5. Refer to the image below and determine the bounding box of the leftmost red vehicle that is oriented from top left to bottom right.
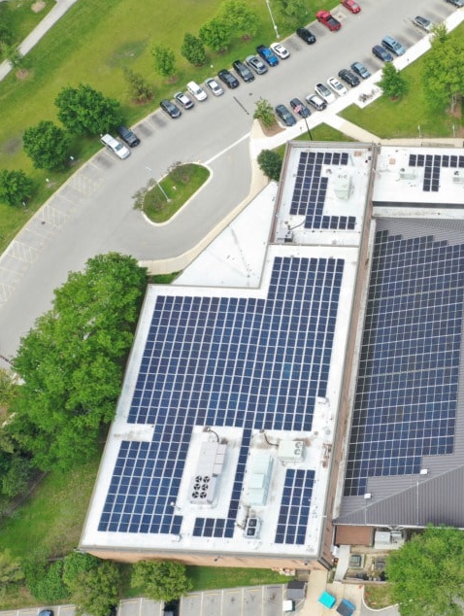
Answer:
[315,9,342,34]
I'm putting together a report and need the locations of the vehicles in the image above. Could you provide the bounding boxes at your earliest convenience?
[98,603,118,616]
[294,24,318,47]
[312,82,336,105]
[245,54,267,76]
[340,0,362,15]
[183,77,209,104]
[161,596,181,616]
[275,105,297,127]
[268,41,291,61]
[348,60,373,81]
[101,132,128,159]
[304,91,329,114]
[201,76,225,97]
[288,96,311,119]
[380,33,407,57]
[253,43,281,69]
[325,76,348,97]
[336,66,362,89]
[158,97,182,120]
[370,43,394,64]
[229,57,257,83]
[410,11,435,34]
[173,90,195,111]
[315,9,342,34]
[217,69,241,90]
[116,124,141,149]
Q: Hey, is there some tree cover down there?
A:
Yes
